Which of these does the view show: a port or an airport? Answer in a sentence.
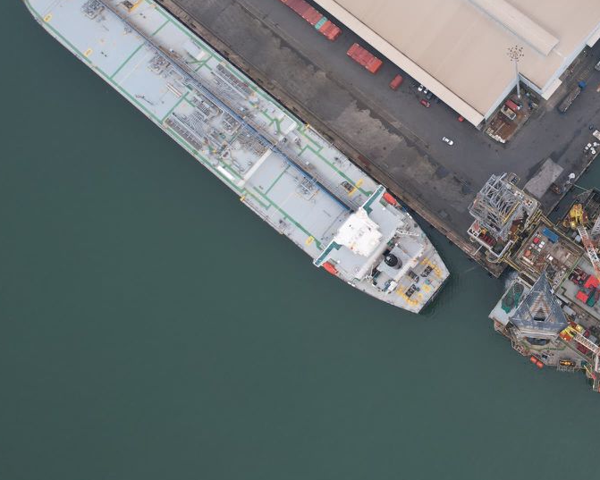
It's a port.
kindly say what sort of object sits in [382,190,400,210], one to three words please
boat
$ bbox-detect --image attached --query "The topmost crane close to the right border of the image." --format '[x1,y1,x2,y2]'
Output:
[573,199,600,281]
